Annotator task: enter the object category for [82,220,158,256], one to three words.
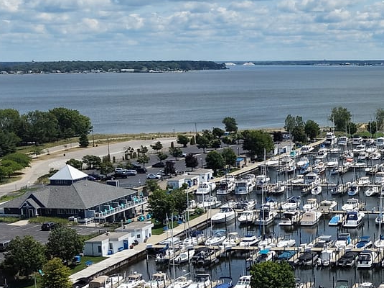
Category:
building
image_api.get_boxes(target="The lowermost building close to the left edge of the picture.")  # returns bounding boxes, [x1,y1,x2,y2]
[0,165,145,220]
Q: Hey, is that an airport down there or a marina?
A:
marina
